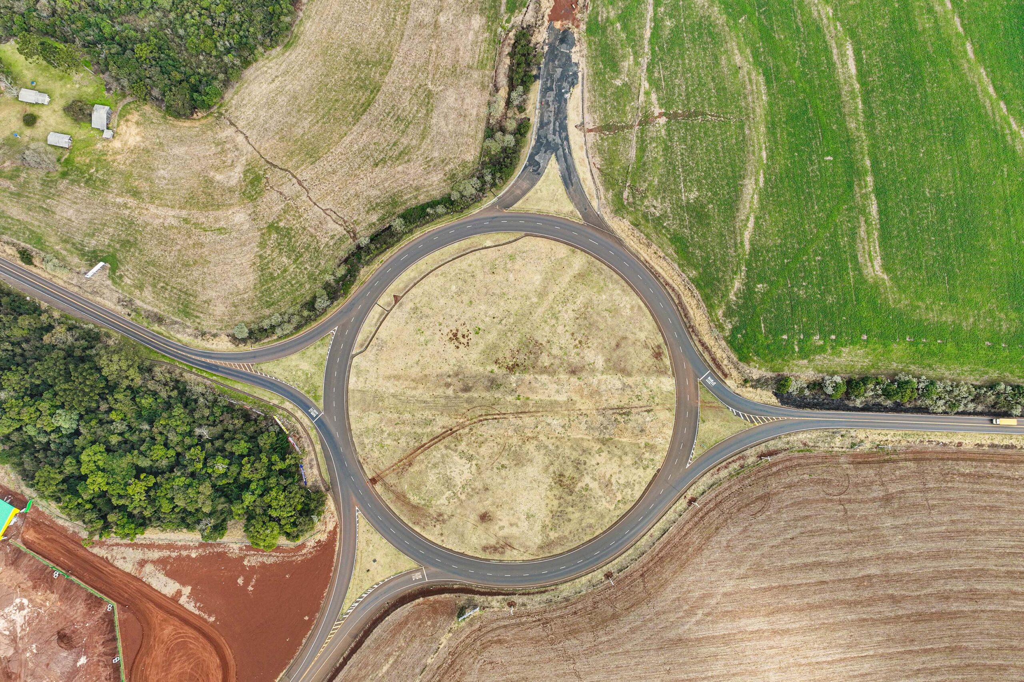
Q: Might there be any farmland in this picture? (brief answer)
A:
Yes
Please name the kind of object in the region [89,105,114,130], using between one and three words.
barn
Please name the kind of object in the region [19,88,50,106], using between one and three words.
house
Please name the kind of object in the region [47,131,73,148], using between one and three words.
shed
